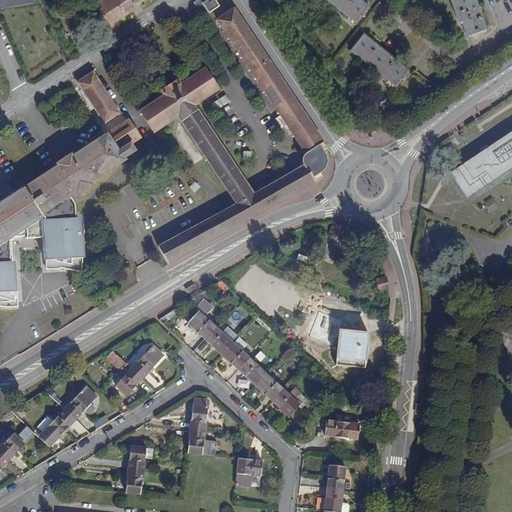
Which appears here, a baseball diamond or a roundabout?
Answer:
roundabout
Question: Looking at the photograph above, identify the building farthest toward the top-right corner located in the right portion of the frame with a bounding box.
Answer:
[450,0,487,40]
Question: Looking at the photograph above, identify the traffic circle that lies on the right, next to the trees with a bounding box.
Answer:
[334,148,406,220]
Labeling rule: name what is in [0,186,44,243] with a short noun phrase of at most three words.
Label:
building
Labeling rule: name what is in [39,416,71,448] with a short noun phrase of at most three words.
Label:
house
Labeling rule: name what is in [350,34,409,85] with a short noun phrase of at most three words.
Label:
building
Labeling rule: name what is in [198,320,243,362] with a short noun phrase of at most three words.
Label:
house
